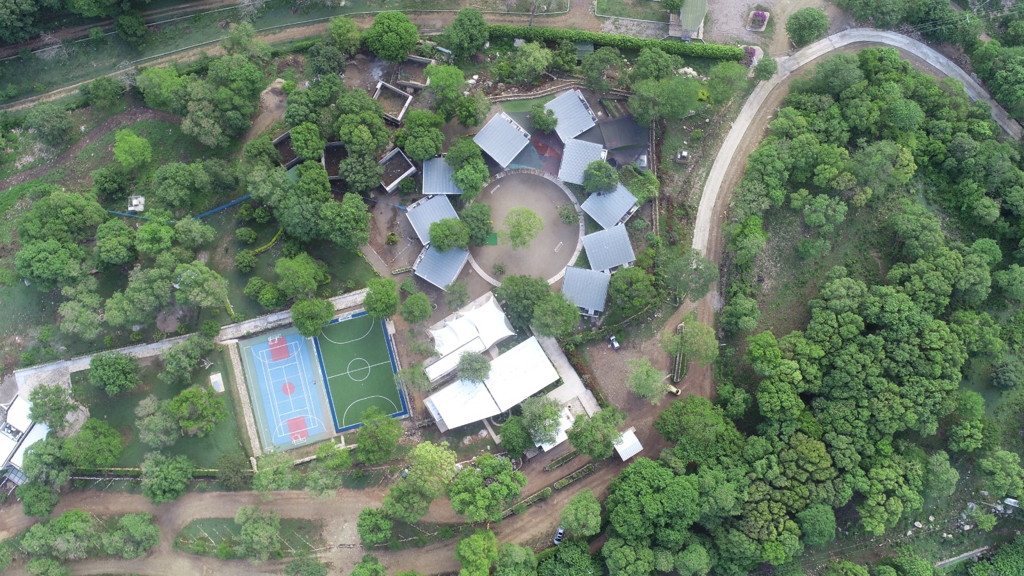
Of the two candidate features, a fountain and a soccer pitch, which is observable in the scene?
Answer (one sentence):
Visible in the photo is a soccer pitch.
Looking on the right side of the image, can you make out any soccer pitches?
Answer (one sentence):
No, no soccer pitch is visible on the right side of the image.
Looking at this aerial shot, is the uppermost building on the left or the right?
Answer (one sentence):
You can find the uppermost building on the right side of the picture.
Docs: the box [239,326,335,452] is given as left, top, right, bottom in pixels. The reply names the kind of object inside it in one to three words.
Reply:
sports court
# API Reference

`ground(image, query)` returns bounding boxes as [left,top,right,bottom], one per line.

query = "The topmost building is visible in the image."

[679,0,709,42]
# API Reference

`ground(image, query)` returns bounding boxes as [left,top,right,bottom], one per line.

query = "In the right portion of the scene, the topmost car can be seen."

[610,336,622,350]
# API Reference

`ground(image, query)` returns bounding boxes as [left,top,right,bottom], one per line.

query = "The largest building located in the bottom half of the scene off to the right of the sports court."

[423,336,560,433]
